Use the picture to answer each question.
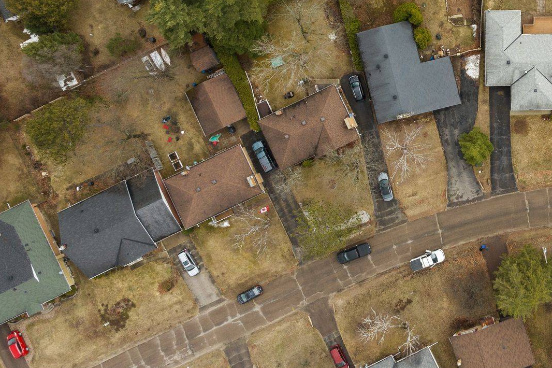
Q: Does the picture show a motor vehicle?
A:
Yes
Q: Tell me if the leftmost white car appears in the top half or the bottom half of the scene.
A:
bottom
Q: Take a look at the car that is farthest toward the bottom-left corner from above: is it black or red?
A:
red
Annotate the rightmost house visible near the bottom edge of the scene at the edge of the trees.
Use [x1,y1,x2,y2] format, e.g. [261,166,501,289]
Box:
[448,314,536,368]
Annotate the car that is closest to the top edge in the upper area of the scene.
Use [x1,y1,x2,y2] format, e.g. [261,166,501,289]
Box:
[347,74,367,103]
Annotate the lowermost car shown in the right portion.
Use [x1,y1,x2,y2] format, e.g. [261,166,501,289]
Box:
[330,342,350,368]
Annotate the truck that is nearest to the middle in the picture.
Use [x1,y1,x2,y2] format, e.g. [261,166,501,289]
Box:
[252,139,275,175]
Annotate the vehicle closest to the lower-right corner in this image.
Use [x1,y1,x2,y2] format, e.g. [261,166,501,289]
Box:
[410,246,446,272]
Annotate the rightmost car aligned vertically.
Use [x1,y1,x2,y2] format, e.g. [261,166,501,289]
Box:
[378,171,396,201]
